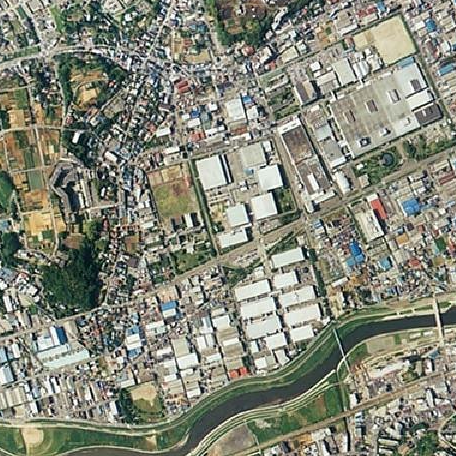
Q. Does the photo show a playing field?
Yes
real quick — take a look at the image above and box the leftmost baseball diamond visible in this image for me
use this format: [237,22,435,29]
[13,427,56,456]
